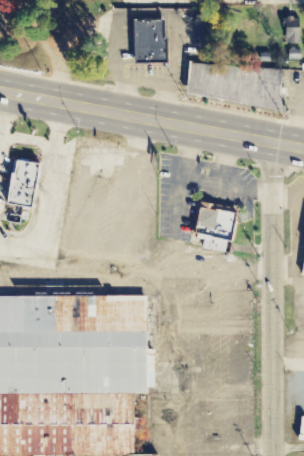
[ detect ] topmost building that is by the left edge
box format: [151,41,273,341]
[8,160,39,206]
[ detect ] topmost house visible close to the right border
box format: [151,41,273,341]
[286,16,302,44]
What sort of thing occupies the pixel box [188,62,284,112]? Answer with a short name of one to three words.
building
